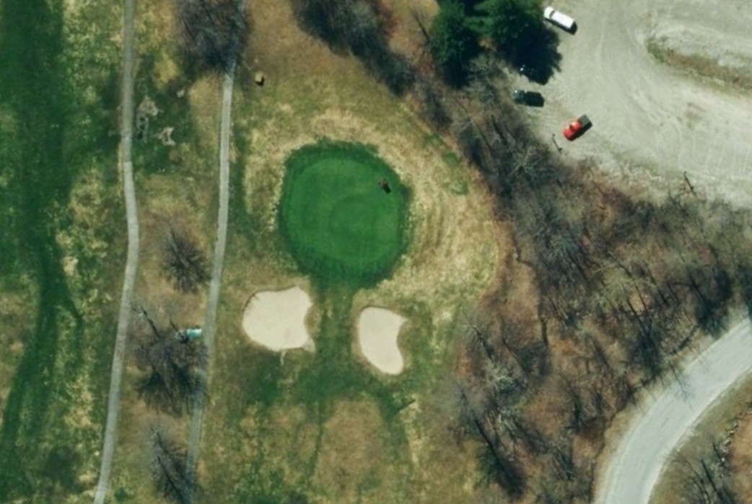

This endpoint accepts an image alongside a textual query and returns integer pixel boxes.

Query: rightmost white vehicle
[543,7,576,34]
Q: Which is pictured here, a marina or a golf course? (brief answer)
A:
golf course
